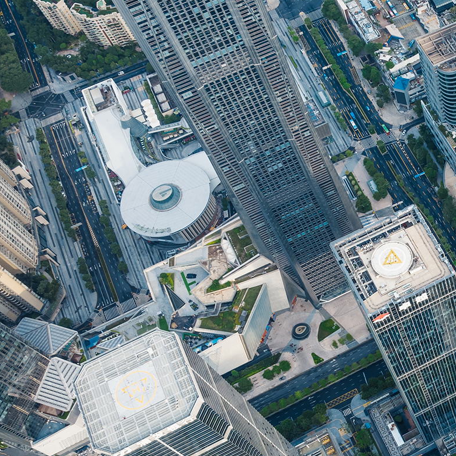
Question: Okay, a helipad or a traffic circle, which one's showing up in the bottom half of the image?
helipad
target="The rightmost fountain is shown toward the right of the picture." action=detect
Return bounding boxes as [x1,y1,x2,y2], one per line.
[290,320,311,340]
